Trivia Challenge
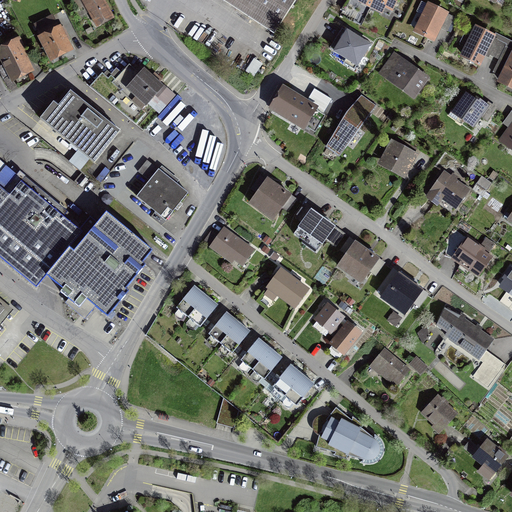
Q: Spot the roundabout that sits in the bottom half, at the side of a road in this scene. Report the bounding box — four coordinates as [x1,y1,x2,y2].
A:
[52,386,123,457]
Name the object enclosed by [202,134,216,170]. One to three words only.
vehicle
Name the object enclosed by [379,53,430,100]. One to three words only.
house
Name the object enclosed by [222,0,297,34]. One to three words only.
building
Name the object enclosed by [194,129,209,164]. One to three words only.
vehicle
